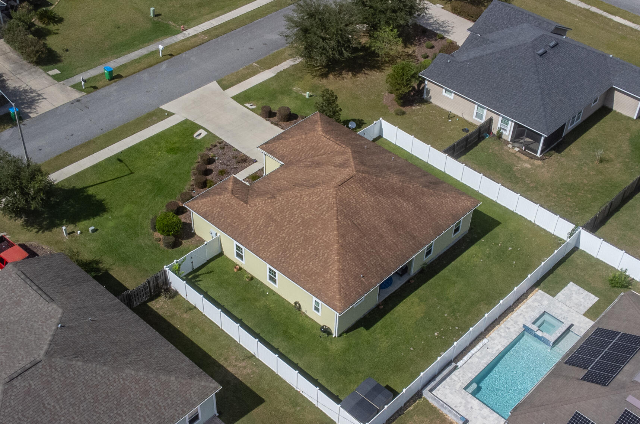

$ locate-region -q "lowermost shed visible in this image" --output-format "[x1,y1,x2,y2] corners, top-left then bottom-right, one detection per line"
[341,378,393,424]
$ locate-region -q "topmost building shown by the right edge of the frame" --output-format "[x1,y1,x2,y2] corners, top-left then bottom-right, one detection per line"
[418,0,640,160]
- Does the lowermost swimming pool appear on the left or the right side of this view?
right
